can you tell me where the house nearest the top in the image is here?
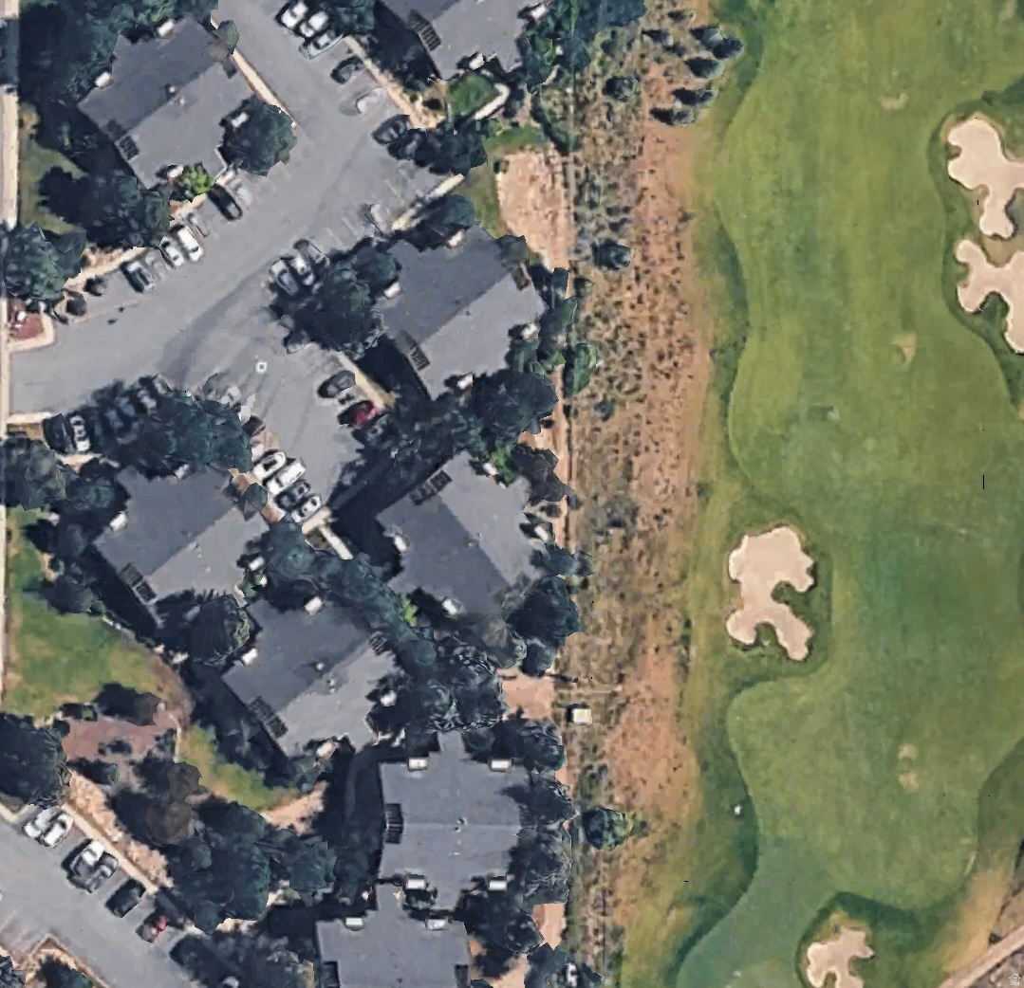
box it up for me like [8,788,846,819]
[378,0,557,88]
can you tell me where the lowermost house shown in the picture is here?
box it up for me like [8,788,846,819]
[316,887,472,988]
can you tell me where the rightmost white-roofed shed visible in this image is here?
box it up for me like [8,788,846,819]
[570,706,589,724]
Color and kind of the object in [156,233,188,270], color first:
white car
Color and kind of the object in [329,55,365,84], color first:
gray car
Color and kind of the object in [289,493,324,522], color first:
white car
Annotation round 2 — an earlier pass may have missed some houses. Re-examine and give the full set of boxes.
[376,440,565,635]
[316,887,472,988]
[378,0,557,88]
[223,584,417,771]
[379,729,535,913]
[365,214,557,404]
[74,7,269,192]
[90,451,285,637]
